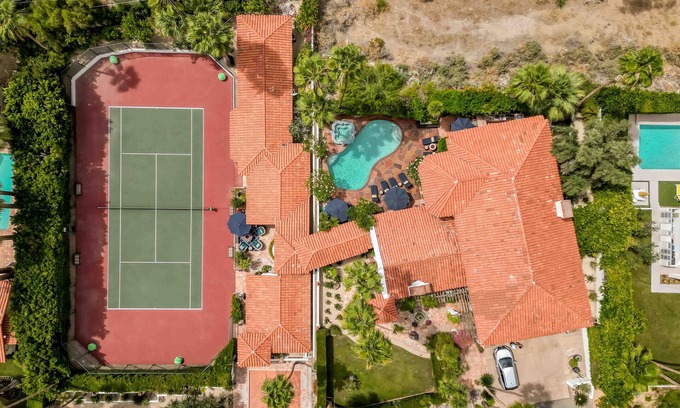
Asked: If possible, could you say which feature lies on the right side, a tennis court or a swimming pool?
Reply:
swimming pool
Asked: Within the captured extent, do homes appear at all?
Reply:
Yes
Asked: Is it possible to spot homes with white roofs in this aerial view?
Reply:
No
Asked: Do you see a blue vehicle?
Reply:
No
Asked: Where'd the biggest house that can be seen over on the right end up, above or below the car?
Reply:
above it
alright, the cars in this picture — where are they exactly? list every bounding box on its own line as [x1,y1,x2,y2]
[493,345,519,389]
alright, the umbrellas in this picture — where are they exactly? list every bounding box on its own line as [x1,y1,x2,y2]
[324,197,349,223]
[225,209,251,235]
[384,185,410,211]
[448,112,476,137]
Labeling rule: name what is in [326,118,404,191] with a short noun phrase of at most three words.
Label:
swimming pool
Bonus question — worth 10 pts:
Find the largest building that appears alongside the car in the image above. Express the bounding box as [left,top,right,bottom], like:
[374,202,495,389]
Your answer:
[370,116,592,347]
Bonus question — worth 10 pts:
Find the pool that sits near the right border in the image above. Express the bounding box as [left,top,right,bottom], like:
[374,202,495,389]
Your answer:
[639,122,680,171]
